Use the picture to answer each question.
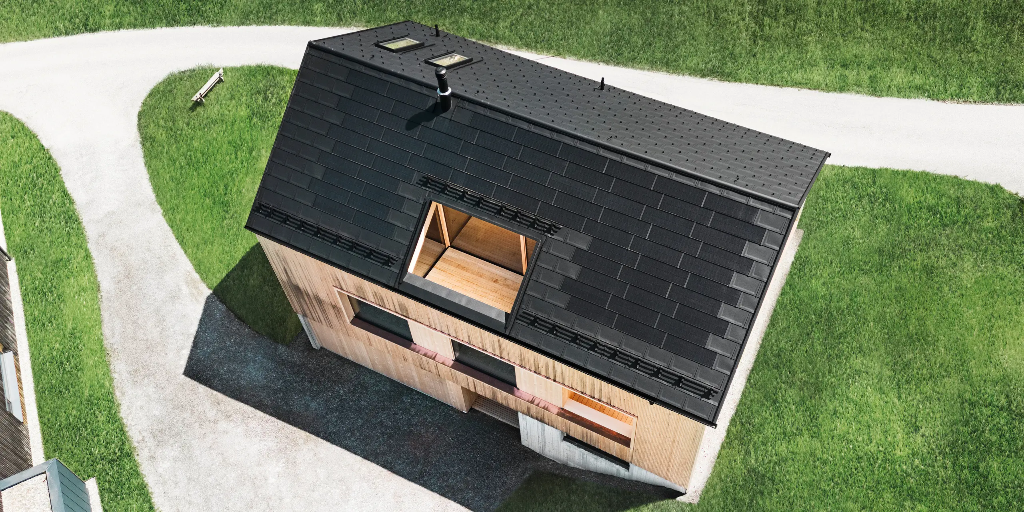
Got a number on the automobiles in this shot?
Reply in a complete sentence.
There are no automobiles in this view.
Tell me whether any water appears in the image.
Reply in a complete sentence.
No, the scene doesn't show any water.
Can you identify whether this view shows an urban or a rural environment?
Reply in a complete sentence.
The area shown here is urban.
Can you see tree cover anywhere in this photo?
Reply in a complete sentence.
No, the scene doesn't show any tree cover.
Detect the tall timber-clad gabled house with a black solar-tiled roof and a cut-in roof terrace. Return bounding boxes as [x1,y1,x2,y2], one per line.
[242,18,830,492]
